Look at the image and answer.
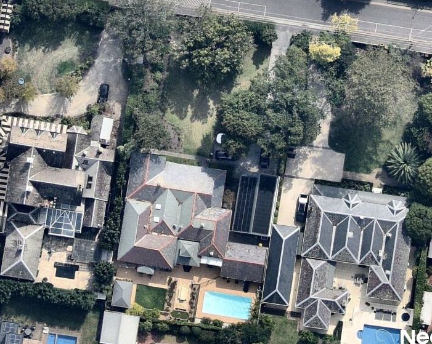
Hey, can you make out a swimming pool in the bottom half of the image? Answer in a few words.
Yes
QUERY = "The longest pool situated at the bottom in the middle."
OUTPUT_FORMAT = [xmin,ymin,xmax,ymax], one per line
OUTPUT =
[200,291,254,321]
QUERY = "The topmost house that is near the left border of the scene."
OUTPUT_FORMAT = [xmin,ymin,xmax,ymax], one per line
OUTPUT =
[0,115,118,282]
